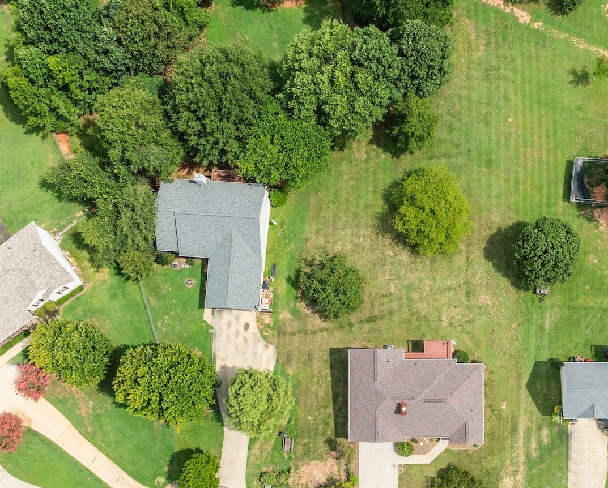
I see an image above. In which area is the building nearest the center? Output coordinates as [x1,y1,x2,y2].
[153,173,268,312]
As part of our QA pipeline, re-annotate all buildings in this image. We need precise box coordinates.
[348,348,484,446]
[153,173,268,312]
[560,362,608,419]
[0,221,81,348]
